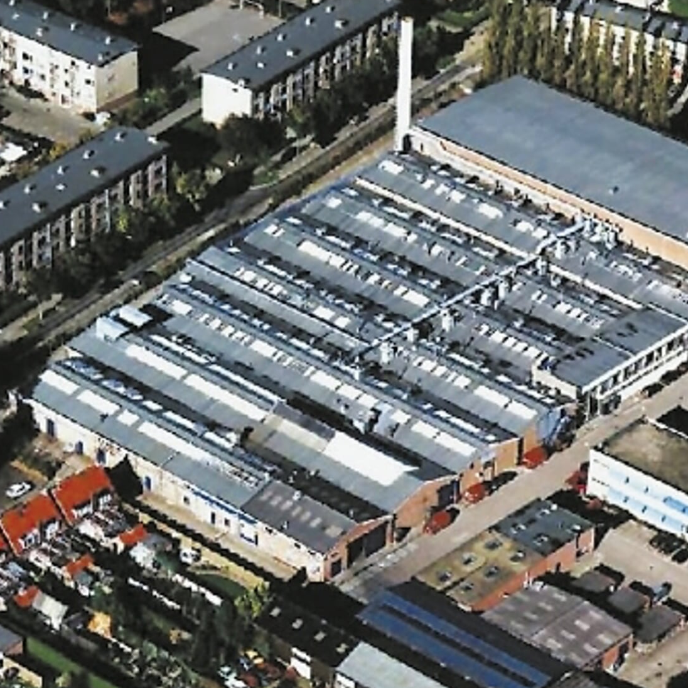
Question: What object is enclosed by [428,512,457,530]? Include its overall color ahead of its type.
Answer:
red car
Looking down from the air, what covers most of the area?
buildings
